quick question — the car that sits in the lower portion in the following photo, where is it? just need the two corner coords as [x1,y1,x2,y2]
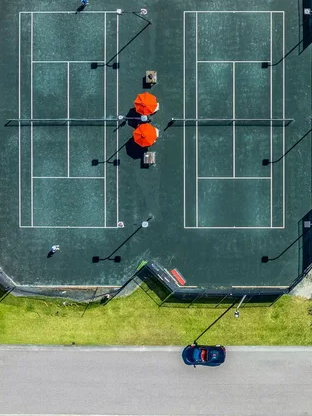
[185,349,224,370]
